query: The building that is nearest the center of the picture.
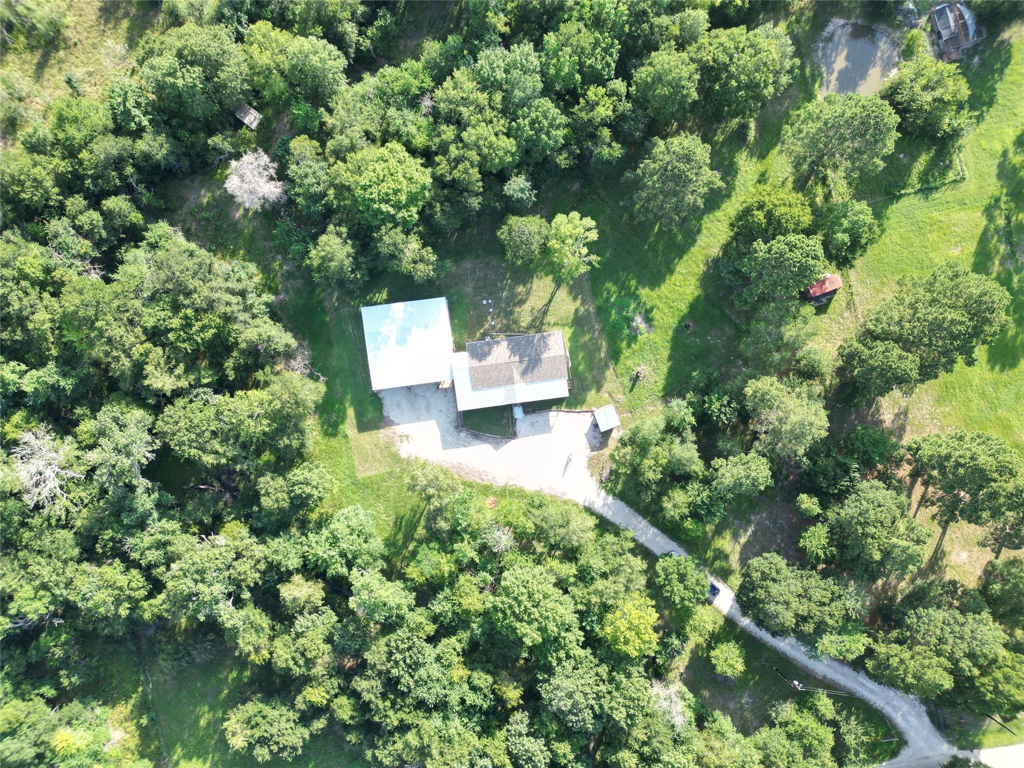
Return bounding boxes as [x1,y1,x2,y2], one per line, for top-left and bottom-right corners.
[452,331,569,411]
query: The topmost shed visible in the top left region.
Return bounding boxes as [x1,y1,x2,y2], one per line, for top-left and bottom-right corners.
[234,104,267,133]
